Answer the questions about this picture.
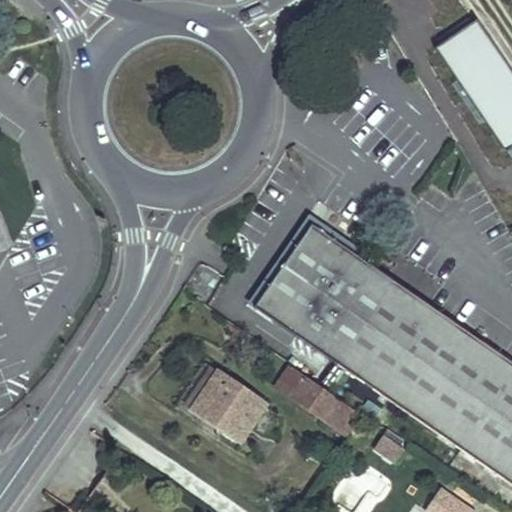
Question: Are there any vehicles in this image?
Yes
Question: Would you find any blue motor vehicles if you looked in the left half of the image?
Yes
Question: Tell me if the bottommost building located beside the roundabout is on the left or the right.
right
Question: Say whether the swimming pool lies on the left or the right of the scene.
right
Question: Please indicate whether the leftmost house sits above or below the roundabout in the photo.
below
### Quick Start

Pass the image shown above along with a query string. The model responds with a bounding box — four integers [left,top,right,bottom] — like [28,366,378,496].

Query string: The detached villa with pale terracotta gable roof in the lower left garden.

[179,366,270,448]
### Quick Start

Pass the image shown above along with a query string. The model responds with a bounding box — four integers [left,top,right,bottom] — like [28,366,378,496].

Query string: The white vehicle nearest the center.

[266,186,286,202]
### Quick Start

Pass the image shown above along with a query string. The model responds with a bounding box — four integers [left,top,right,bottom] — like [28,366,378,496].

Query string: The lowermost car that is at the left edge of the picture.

[23,284,45,299]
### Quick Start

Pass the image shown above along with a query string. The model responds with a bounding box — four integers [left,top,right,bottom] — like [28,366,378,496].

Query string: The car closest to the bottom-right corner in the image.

[476,322,492,340]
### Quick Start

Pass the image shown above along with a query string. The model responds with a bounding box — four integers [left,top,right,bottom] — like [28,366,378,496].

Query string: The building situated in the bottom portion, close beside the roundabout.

[250,215,512,485]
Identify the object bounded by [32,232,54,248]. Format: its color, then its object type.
blue vehicle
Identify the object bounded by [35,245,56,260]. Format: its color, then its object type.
white car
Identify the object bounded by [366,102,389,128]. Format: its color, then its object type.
white vehicle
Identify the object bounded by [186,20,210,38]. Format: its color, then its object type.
white car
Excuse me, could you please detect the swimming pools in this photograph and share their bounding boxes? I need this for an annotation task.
[332,466,391,512]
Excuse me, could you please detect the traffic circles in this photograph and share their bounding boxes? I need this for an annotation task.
[70,2,276,208]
